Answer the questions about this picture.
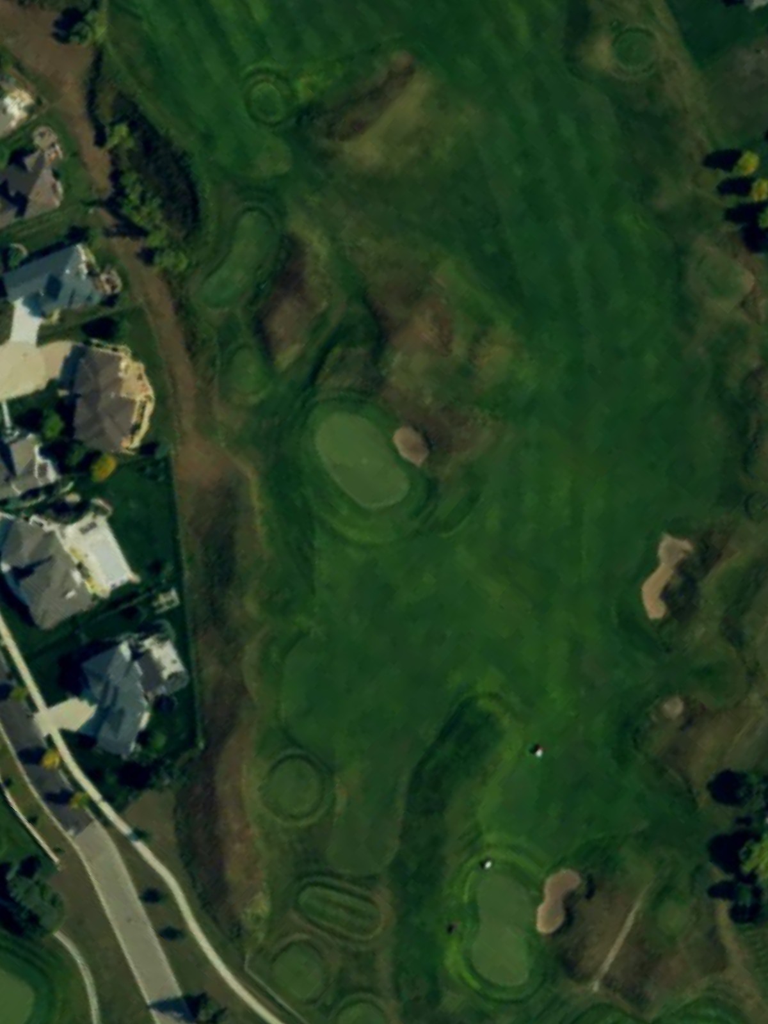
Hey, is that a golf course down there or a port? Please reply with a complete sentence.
This looks like a golf course.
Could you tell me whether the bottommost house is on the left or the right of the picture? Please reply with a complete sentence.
The bottommost house appears in the left half of the scene.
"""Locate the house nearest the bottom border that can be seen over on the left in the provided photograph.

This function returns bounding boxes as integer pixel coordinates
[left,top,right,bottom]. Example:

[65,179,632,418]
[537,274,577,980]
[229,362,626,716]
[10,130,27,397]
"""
[87,639,150,753]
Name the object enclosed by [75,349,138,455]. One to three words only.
house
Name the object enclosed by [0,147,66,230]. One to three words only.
house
